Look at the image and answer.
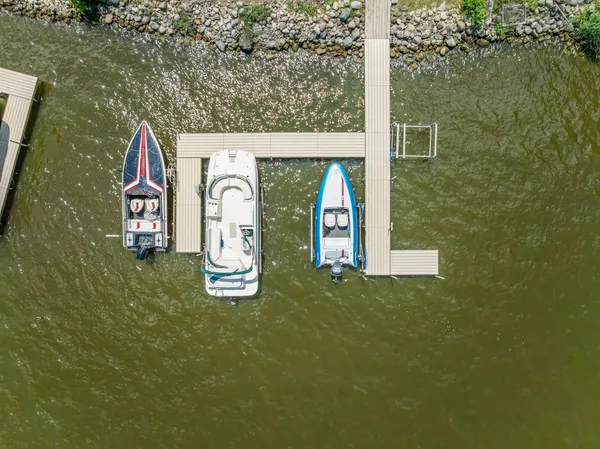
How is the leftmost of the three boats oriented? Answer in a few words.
up and down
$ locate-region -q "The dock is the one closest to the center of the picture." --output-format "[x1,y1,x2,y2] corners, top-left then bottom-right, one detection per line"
[170,36,446,281]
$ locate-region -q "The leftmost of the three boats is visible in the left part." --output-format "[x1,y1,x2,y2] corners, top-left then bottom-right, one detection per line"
[122,120,169,263]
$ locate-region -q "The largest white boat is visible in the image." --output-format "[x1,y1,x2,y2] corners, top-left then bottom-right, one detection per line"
[200,149,260,304]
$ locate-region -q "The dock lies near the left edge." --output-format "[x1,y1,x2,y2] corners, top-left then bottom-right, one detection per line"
[0,67,40,210]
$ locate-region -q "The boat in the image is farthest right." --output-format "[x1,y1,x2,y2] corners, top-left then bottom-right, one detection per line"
[315,162,358,282]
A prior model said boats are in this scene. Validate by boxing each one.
[315,162,358,282]
[200,149,260,304]
[122,120,169,263]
